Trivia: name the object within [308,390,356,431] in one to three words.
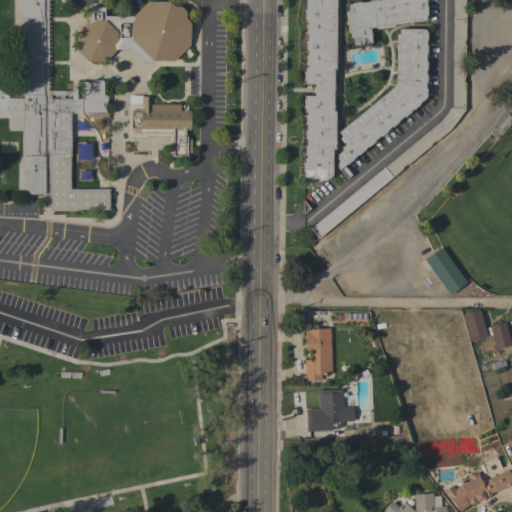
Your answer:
house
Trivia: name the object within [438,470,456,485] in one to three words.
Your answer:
swimming pool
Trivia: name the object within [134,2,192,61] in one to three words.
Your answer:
building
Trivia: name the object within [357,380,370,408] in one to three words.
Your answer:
swimming pool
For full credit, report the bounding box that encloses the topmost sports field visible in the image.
[434,128,512,296]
